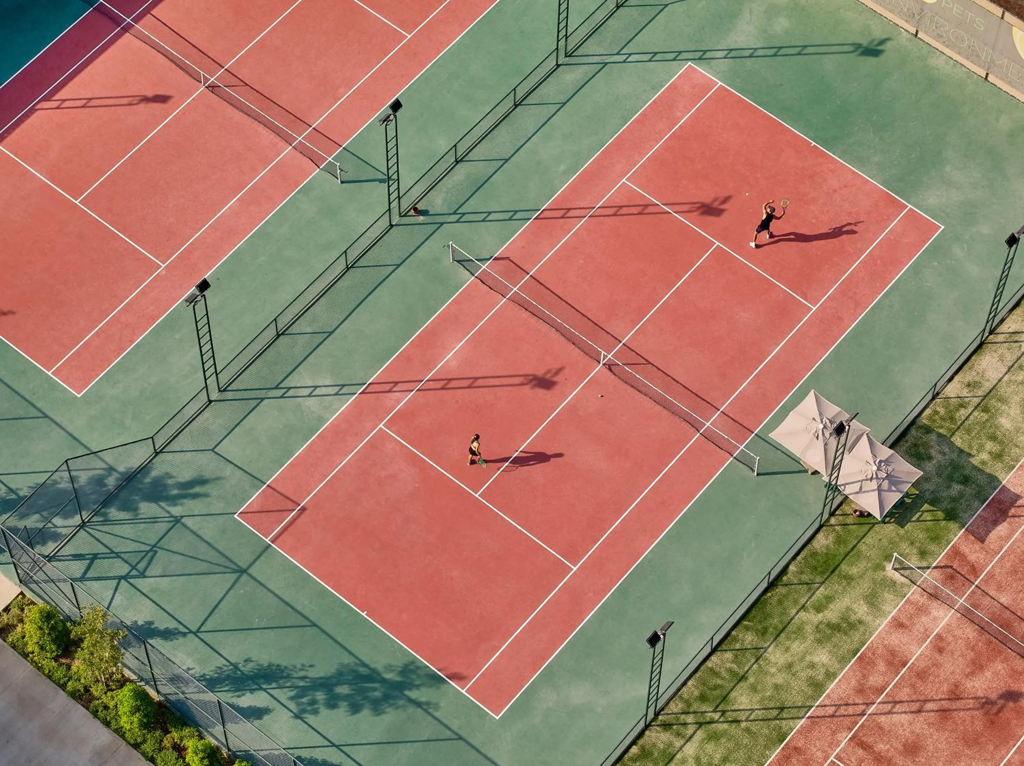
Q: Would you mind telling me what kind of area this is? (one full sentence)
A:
The area seen from above is a sports ground.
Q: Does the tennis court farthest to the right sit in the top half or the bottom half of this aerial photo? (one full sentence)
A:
The tennis court farthest to the right is in the bottom half of the image.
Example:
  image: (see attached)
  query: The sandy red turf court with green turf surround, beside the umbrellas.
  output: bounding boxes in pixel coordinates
[618,301,1024,766]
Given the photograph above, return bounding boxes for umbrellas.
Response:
[823,433,922,521]
[770,390,869,477]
